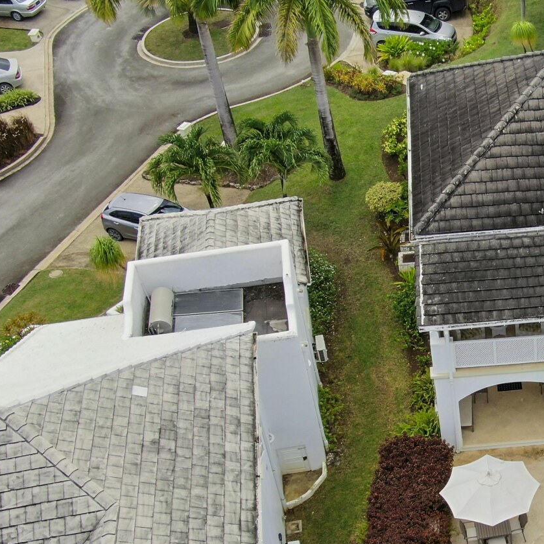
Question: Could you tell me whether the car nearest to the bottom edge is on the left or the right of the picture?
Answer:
left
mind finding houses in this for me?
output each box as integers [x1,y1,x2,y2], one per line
[0,194,339,544]
[403,49,544,452]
